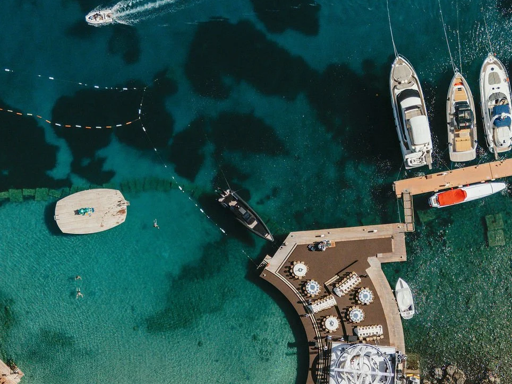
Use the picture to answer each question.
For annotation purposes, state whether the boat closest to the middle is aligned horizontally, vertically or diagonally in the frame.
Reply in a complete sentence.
The boat closest to the middle is oriented diagonally.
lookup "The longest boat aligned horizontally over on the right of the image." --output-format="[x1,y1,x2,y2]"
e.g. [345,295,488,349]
[424,181,507,210]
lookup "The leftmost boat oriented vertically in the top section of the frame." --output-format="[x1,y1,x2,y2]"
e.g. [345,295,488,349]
[389,55,432,178]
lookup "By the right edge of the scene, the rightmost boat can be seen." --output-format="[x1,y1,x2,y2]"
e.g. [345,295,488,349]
[478,52,512,163]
